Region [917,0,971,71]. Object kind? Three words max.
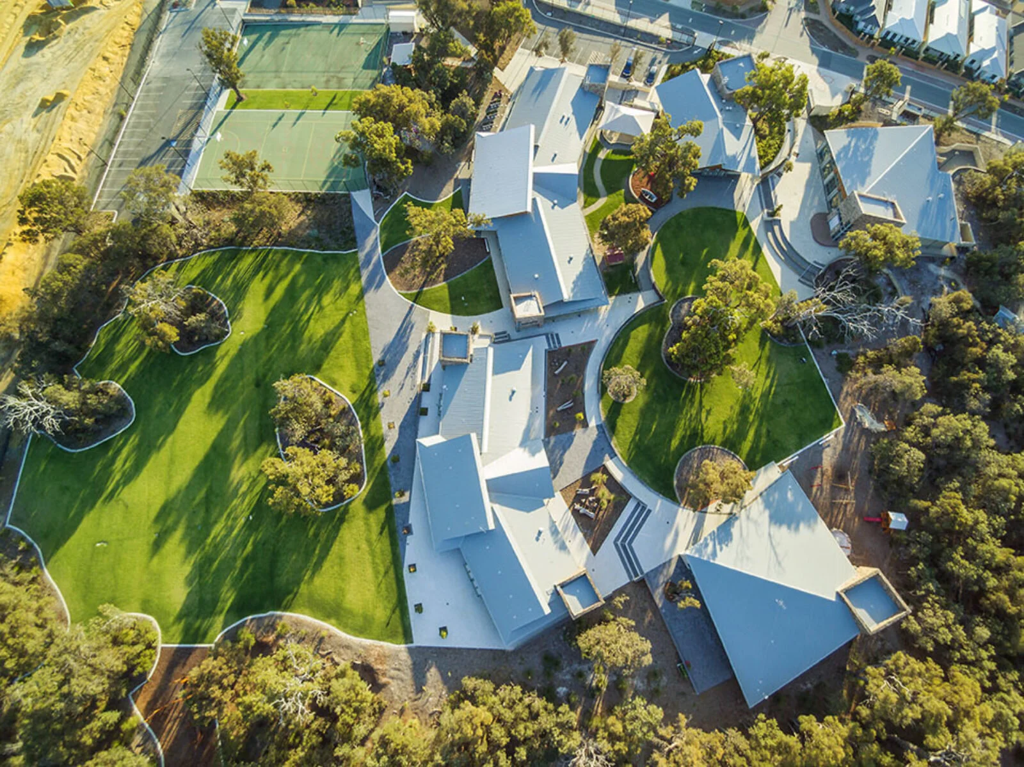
house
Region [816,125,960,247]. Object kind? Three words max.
building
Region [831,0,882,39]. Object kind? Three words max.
house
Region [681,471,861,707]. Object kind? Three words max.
building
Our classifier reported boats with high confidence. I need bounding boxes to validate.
[641,190,659,202]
